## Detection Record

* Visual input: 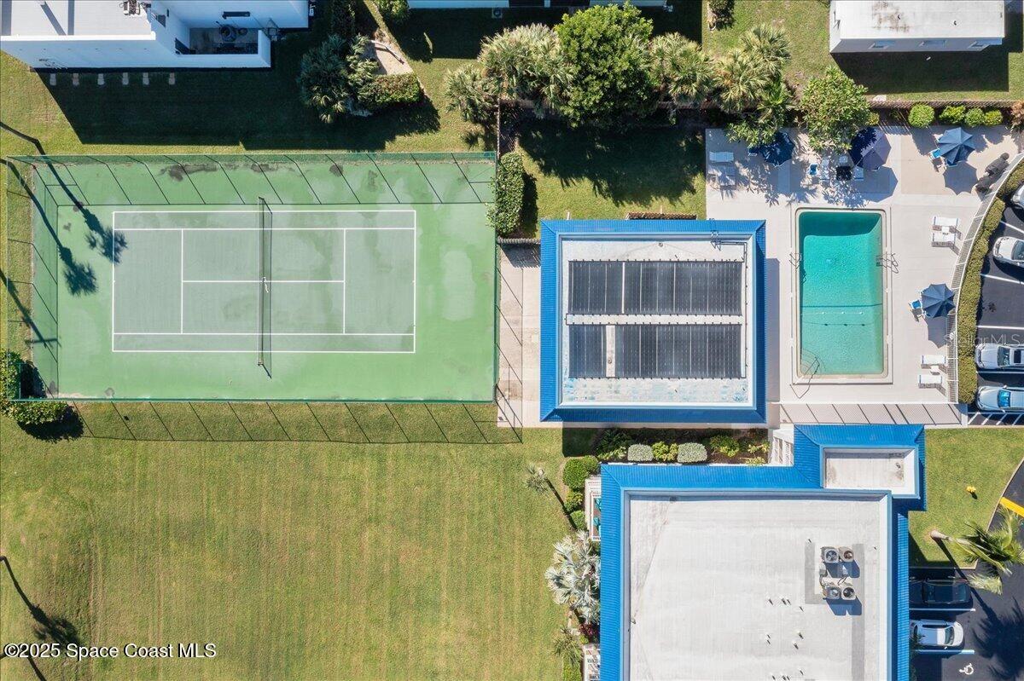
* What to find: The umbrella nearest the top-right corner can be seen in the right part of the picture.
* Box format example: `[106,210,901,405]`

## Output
[933,129,969,165]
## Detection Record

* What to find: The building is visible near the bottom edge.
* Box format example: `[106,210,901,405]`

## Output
[585,423,927,681]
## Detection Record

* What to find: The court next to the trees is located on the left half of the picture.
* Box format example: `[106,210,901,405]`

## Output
[32,160,496,401]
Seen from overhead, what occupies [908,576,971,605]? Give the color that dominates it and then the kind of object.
black car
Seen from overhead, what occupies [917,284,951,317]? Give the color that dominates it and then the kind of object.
blue umbrella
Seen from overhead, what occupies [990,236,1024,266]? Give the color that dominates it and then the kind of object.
white car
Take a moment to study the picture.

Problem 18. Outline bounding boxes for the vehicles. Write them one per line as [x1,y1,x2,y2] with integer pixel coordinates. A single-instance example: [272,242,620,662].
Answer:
[908,576,971,605]
[973,343,1024,373]
[974,385,1024,414]
[908,620,962,650]
[990,236,1024,266]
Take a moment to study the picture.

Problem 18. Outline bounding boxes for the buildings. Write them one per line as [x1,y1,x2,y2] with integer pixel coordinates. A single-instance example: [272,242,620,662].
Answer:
[585,423,927,681]
[830,0,1024,52]
[413,0,667,8]
[540,219,767,425]
[0,0,308,67]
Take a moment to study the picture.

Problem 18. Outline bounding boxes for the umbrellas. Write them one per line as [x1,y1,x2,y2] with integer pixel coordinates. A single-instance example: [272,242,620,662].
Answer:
[933,129,969,165]
[753,129,795,171]
[845,127,892,173]
[917,284,951,317]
